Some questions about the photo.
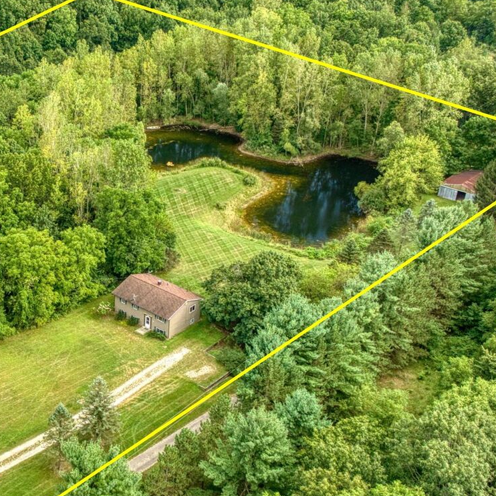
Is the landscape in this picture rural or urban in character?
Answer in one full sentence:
The area shown here is rural.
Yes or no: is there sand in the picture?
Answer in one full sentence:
No, there is no sand in the image.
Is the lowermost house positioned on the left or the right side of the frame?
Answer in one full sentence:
The lowermost house appears in the left half of the scene.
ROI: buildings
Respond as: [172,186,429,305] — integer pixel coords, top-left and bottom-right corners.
[439,172,491,207]
[114,273,198,338]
